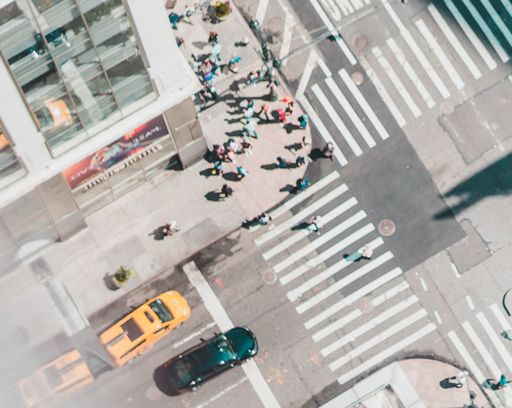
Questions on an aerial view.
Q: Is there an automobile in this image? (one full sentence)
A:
Yes, the frame does contain an automobile.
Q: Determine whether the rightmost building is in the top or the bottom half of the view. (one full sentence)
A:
You can find the rightmost building in the bottom half.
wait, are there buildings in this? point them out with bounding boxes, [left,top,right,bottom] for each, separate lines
[0,0,210,272]
[319,361,425,408]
